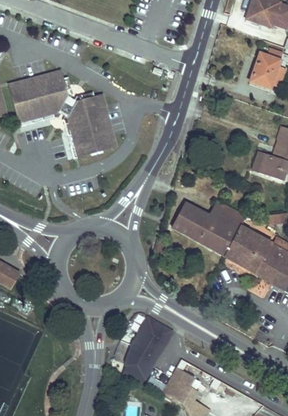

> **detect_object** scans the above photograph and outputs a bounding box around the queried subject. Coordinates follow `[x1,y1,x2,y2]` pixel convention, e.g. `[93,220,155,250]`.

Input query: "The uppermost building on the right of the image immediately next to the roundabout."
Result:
[172,198,244,256]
